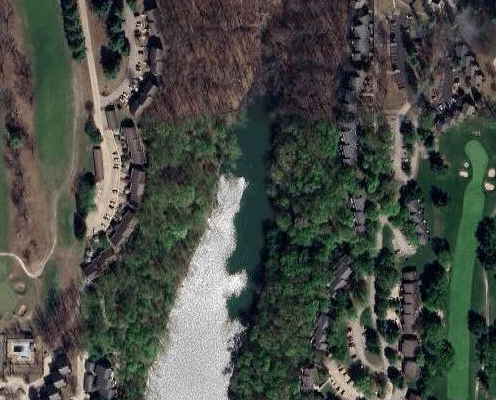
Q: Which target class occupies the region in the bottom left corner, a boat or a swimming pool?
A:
swimming pool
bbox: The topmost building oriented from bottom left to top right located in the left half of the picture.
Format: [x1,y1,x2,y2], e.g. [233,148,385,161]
[128,82,160,121]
